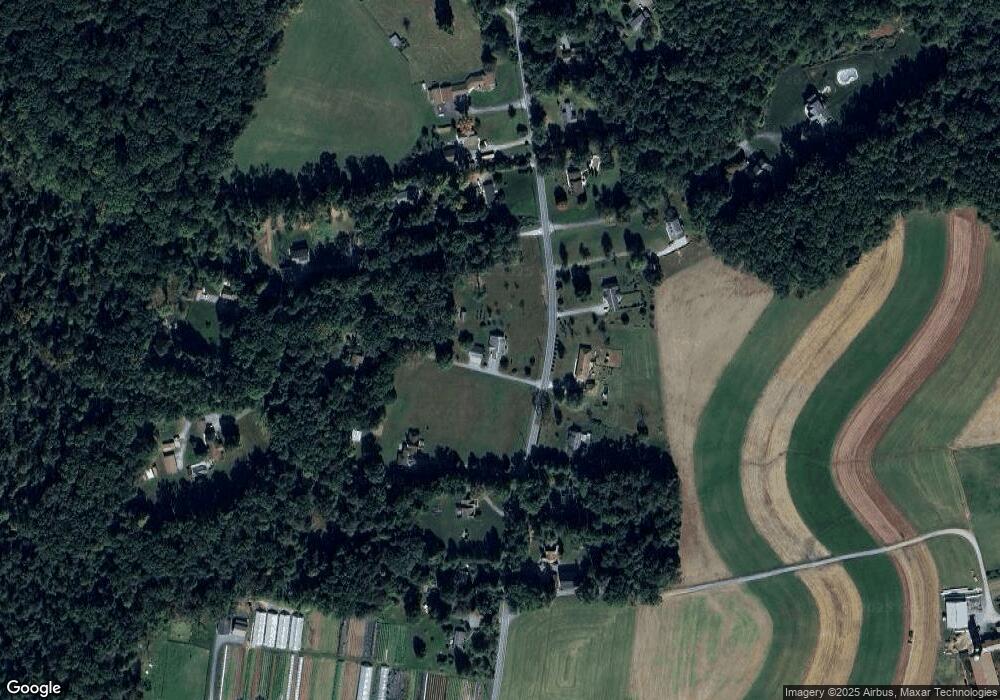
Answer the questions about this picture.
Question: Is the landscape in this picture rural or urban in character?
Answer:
rural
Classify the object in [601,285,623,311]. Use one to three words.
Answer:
house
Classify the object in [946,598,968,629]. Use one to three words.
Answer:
barn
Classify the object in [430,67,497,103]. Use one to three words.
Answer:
house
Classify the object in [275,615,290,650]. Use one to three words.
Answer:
greenhouse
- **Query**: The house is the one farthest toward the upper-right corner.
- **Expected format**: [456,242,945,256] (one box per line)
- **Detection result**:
[804,94,829,123]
